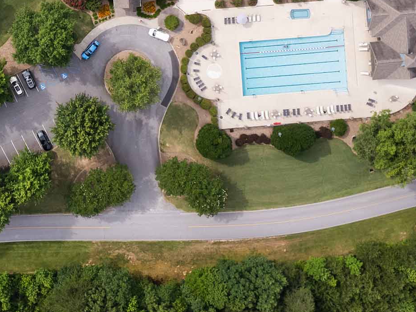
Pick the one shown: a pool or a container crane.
pool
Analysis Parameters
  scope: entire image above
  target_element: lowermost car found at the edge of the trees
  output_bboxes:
[38,131,53,152]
